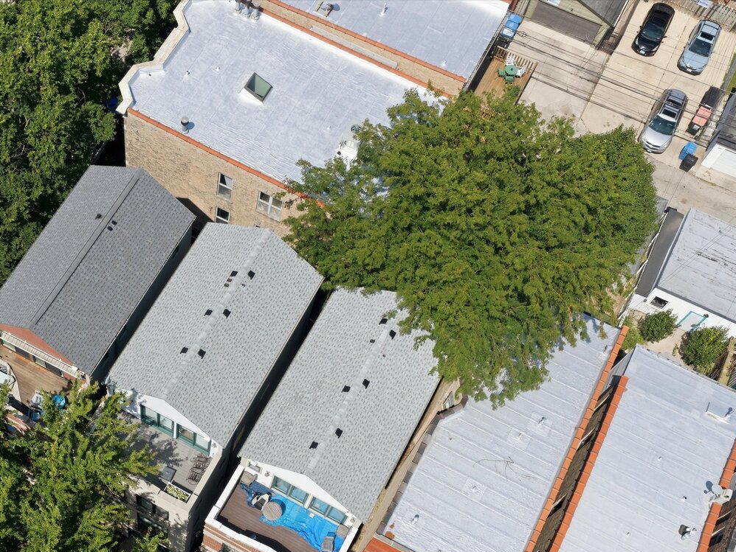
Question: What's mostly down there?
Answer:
buildings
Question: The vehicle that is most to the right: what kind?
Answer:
car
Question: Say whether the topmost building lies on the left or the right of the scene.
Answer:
right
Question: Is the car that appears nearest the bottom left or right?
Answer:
right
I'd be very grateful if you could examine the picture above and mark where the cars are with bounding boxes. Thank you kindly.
[682,6,731,70]
[634,0,681,53]
[646,76,701,149]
